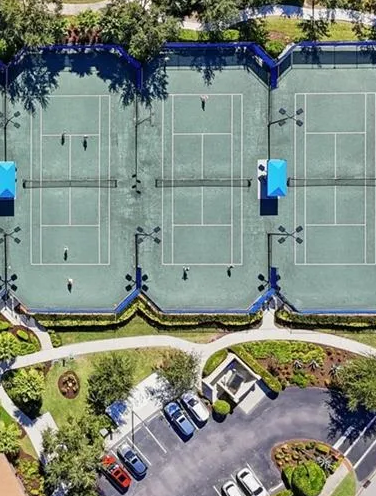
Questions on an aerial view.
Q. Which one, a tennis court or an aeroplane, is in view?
tennis court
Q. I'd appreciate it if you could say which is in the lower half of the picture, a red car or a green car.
red car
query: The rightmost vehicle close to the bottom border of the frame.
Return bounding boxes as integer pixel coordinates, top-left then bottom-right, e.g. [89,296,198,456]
[237,466,264,496]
